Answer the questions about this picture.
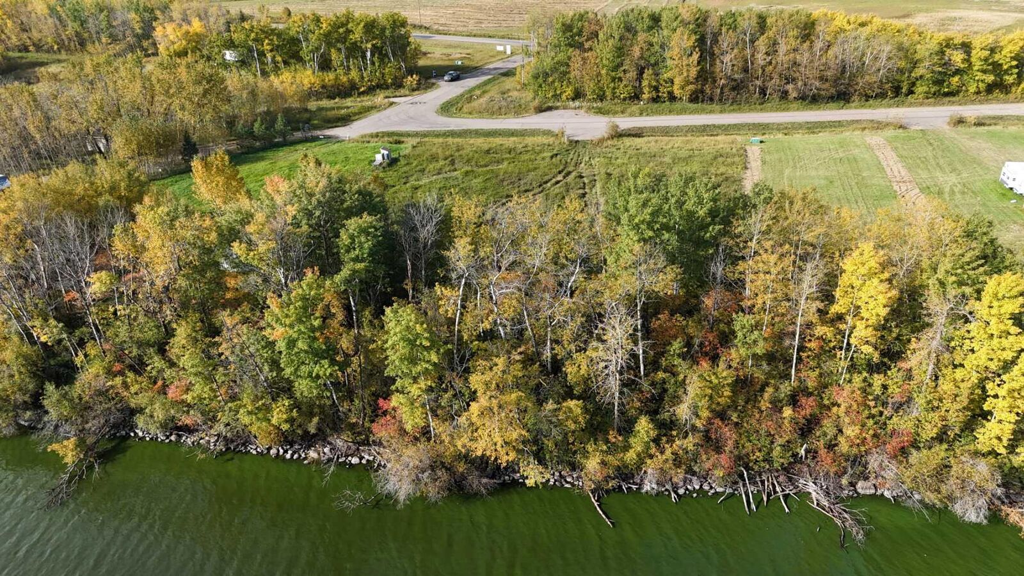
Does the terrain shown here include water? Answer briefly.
Yes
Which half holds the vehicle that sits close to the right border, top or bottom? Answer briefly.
top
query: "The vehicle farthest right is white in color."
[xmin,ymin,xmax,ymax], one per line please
[1002,164,1024,197]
